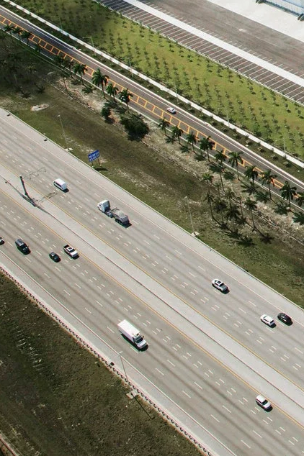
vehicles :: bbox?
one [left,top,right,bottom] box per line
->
[46,252,60,263]
[259,316,276,330]
[276,314,294,327]
[116,319,146,349]
[60,245,78,259]
[165,107,176,115]
[96,198,131,225]
[52,180,67,191]
[211,281,227,294]
[14,241,29,254]
[253,395,273,412]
